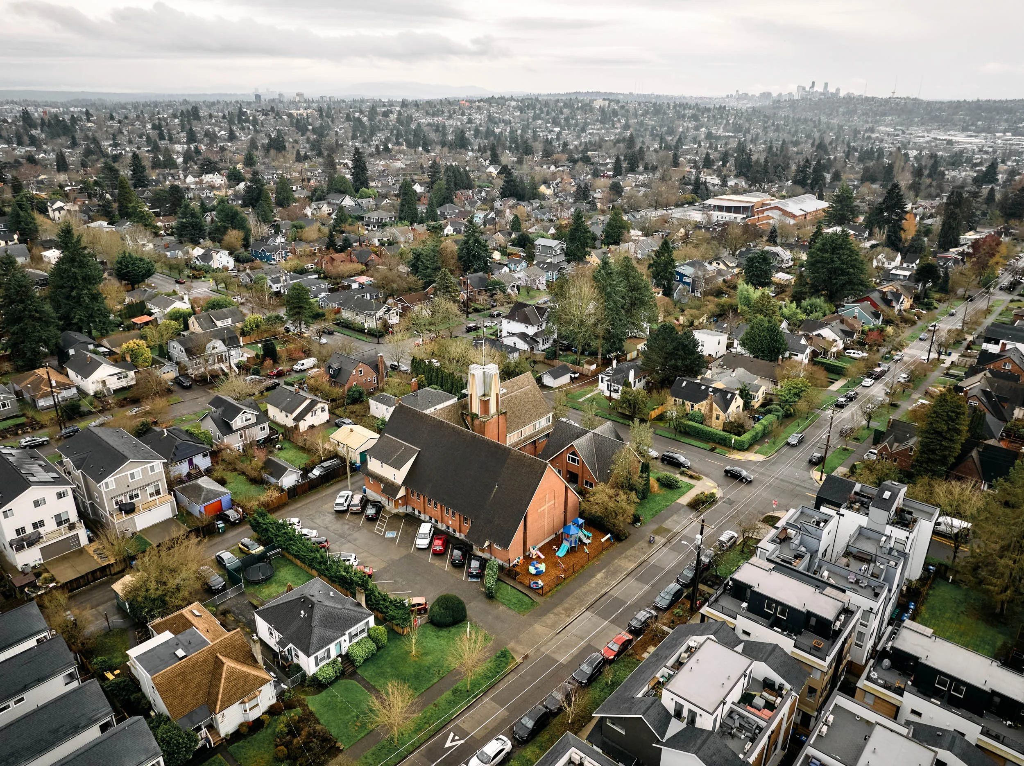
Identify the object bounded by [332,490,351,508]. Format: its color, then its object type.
white car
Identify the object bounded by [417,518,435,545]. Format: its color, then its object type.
white car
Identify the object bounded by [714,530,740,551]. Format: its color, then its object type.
gray car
